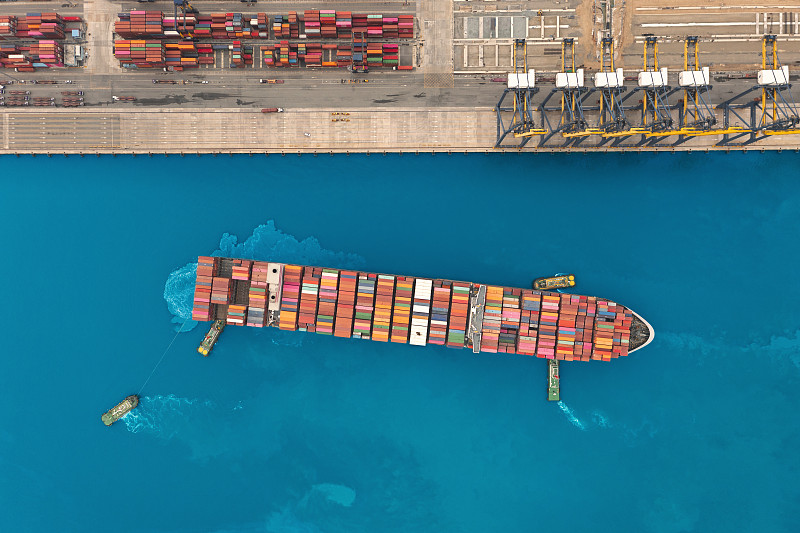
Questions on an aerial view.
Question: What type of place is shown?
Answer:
port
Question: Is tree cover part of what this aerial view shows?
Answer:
No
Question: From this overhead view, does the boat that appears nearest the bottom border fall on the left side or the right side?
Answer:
left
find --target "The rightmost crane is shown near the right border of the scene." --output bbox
[709,36,800,148]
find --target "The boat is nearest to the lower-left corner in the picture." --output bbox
[102,393,140,425]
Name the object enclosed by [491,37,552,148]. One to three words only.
container crane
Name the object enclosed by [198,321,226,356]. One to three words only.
boat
